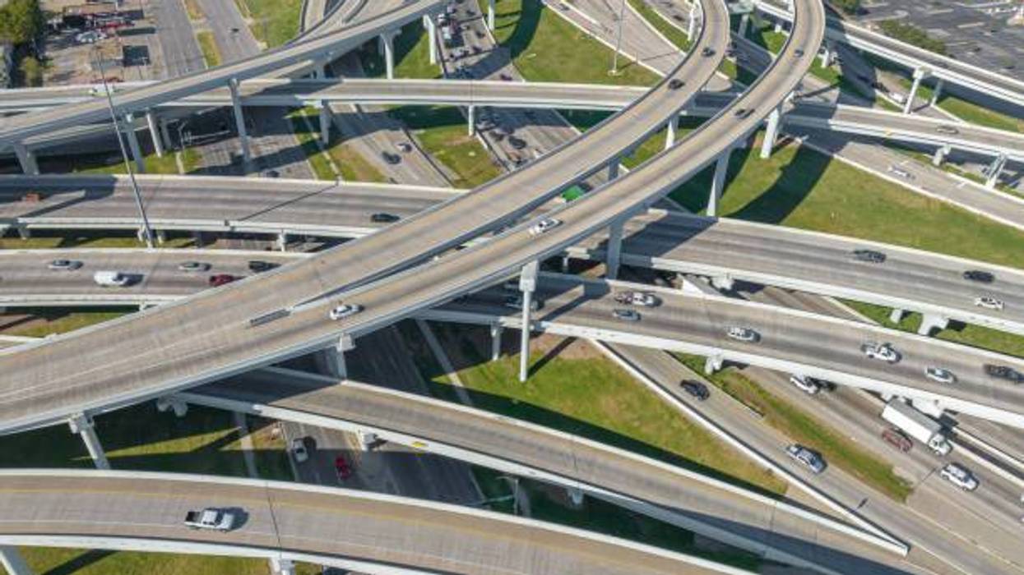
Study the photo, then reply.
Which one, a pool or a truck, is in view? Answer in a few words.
truck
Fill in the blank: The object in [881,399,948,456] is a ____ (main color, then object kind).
white truck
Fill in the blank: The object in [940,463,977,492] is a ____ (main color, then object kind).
white car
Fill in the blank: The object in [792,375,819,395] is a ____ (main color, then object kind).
white car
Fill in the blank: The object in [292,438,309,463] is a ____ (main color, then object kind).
gray car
